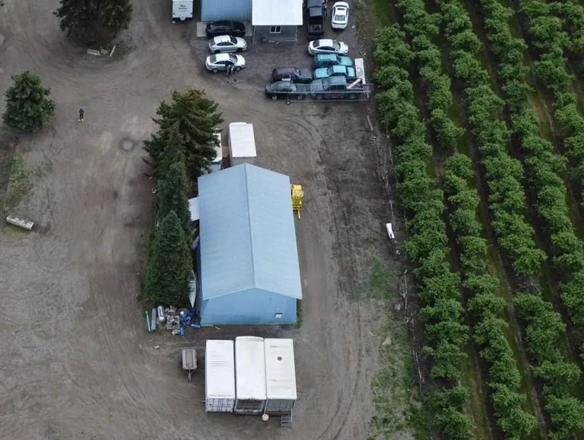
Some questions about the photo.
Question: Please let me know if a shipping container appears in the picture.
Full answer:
Yes, a shipping container appears in the view.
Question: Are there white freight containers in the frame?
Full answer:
Yes, there's a white freight container here.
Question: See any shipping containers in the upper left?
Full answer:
No, no shipping container appears in the upper left.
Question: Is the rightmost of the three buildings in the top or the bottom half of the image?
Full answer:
You can find the rightmost of the three buildings in the top half.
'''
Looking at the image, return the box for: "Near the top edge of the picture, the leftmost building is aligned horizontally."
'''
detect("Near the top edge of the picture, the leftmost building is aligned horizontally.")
[201,0,252,21]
